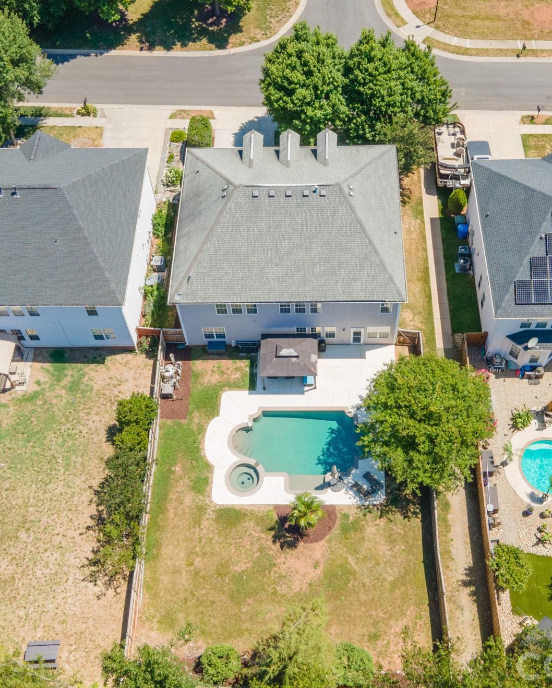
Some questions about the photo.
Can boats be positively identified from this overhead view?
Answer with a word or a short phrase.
Yes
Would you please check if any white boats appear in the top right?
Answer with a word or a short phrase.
Yes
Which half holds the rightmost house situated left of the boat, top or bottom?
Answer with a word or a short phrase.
top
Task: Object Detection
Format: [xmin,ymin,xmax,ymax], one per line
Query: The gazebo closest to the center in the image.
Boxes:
[261,338,317,392]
